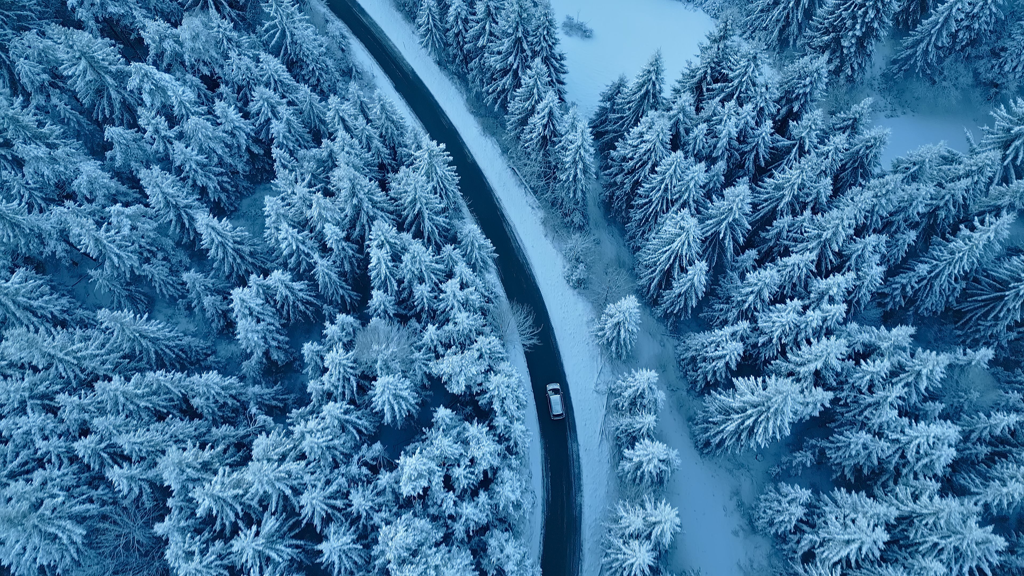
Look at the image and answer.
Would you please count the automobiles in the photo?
1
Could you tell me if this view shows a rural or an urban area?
rural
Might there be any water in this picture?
No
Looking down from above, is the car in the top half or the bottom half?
bottom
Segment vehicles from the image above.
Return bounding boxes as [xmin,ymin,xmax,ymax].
[546,382,566,420]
